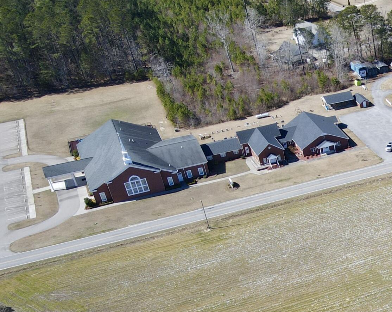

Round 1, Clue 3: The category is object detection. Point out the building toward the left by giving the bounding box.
[43,120,211,205]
